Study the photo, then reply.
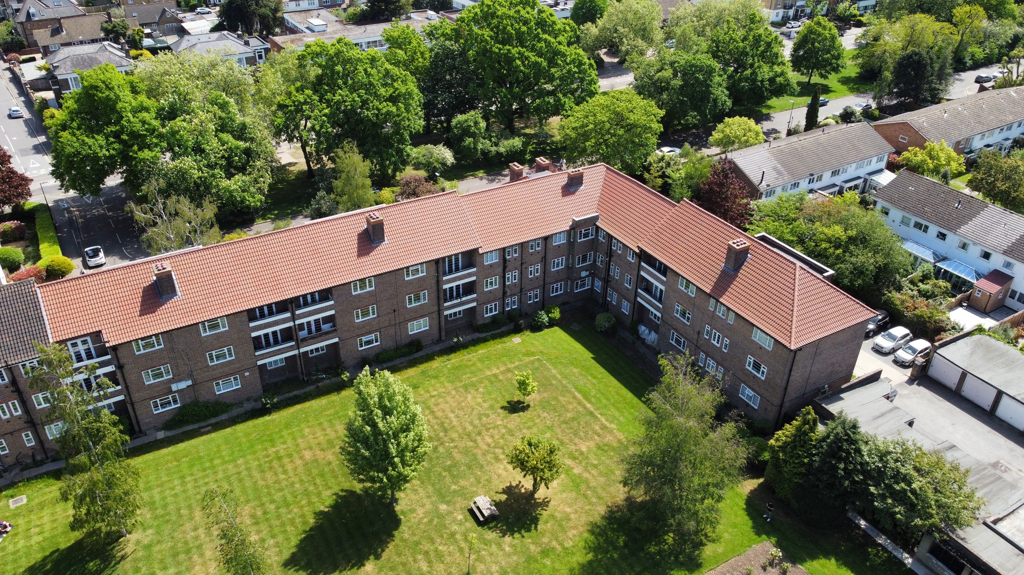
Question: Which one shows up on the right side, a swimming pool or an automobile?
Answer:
automobile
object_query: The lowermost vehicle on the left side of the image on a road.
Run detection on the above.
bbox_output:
[82,243,108,266]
